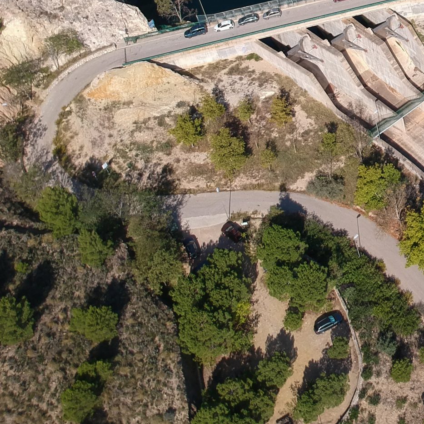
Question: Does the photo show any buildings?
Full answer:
No, I can see no building in this picture.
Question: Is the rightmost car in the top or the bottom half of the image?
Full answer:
The rightmost car sits in the bottom half of the picture.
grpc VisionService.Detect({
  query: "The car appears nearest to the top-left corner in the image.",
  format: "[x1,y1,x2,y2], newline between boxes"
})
[184,22,207,36]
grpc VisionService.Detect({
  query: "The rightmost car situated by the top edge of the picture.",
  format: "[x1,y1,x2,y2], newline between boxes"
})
[263,6,283,18]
